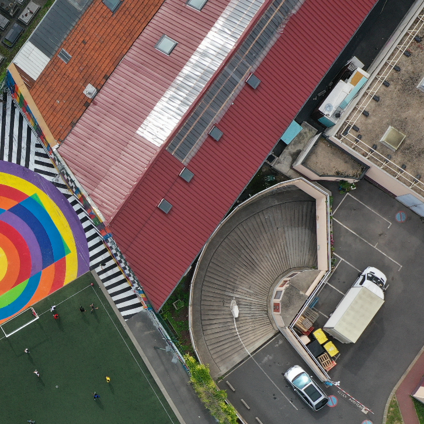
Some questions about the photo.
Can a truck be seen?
Yes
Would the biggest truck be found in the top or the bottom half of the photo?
bottom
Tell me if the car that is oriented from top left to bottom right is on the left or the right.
right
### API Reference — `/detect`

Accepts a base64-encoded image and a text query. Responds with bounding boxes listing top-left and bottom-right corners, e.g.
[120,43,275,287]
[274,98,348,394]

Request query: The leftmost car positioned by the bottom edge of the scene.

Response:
[279,362,335,417]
